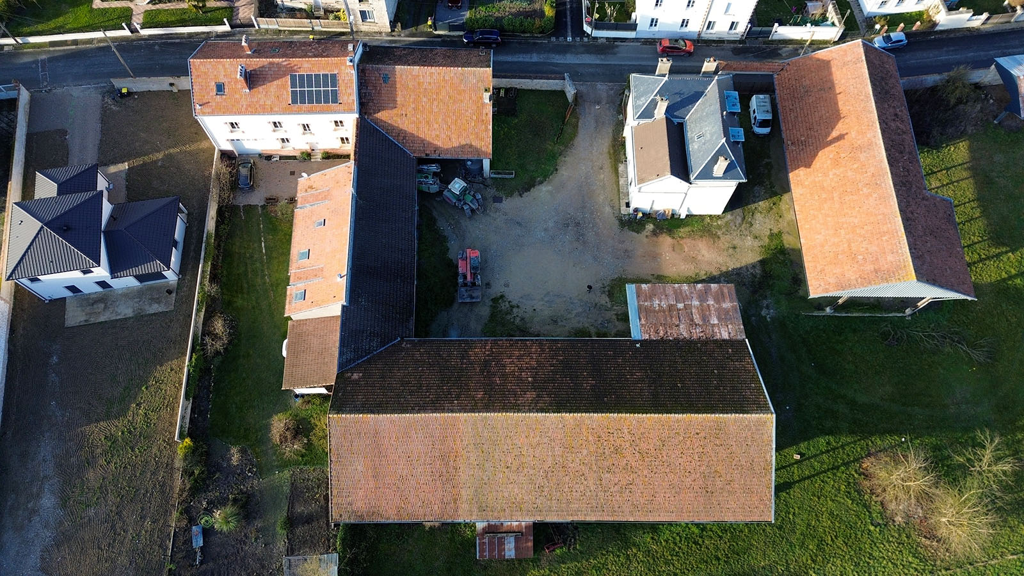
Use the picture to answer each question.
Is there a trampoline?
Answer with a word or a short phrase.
No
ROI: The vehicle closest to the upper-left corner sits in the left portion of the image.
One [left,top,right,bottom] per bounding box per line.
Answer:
[232,155,254,194]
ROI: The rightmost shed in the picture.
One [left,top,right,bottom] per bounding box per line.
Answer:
[986,59,1024,131]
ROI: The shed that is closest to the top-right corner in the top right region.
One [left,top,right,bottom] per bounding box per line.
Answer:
[935,0,985,29]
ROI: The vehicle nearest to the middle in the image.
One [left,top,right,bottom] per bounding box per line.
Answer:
[455,244,482,305]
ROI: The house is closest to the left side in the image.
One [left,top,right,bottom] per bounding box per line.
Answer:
[6,163,190,295]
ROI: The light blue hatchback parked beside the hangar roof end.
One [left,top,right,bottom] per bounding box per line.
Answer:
[874,31,914,50]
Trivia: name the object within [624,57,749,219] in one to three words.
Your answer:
house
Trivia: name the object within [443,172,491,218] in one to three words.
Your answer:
work vehicle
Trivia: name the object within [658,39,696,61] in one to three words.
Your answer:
car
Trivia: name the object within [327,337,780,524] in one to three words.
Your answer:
barn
